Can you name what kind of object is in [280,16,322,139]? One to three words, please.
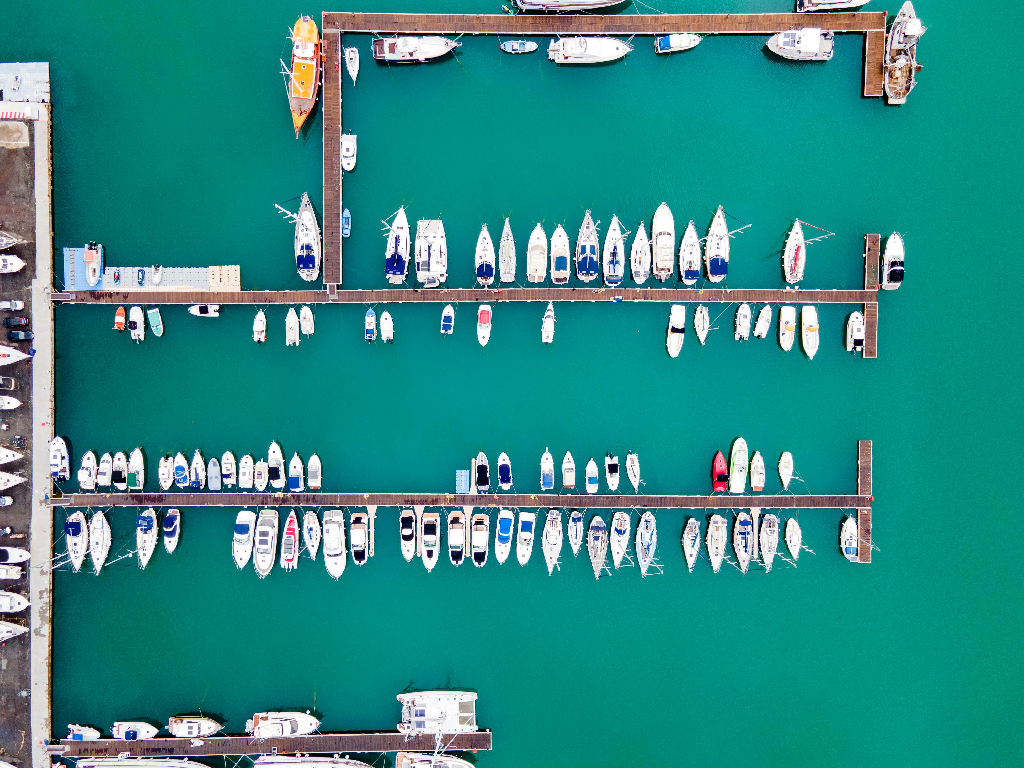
ship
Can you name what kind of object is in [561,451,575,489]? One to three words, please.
boat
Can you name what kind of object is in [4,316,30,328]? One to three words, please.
vehicle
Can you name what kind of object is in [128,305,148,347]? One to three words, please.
boat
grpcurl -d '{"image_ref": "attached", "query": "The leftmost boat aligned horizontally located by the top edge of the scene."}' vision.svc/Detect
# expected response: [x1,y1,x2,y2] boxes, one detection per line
[373,33,461,64]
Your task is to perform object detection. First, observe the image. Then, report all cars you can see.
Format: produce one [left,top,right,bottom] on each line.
[0,299,26,311]
[4,316,30,328]
[7,330,36,341]
[0,496,16,507]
